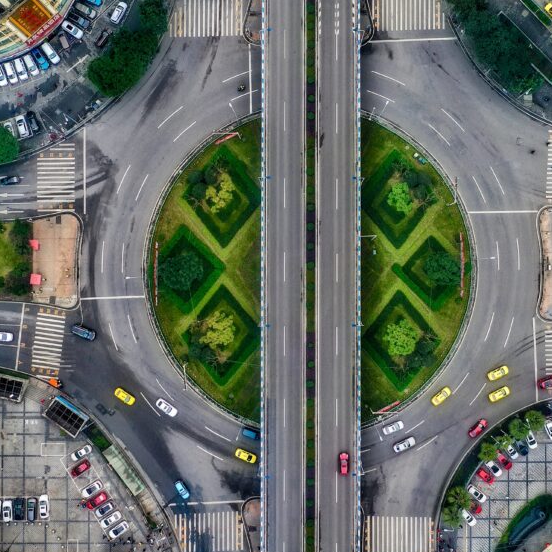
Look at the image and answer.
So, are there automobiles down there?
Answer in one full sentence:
Yes, there is an automobile in the image.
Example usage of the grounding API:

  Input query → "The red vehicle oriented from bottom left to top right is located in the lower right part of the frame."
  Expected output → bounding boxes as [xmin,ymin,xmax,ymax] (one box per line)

[466,418,489,438]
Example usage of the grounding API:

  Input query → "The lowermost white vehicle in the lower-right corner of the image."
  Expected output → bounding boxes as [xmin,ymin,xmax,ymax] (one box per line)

[458,507,478,526]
